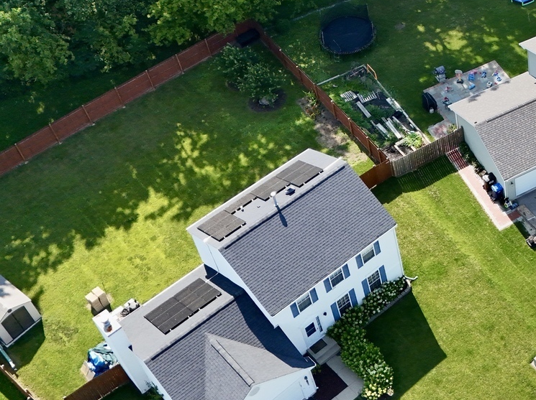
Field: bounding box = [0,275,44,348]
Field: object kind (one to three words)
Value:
shed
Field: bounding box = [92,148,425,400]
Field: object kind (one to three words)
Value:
house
